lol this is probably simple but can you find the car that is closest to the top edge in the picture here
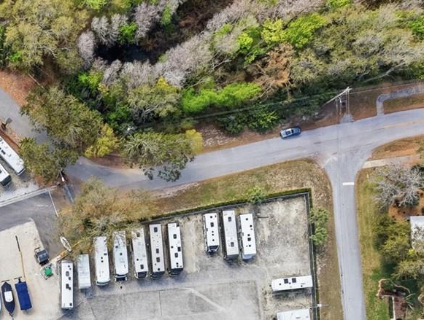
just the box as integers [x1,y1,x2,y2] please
[278,126,300,139]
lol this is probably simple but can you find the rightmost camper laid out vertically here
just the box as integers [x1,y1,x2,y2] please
[236,213,255,262]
